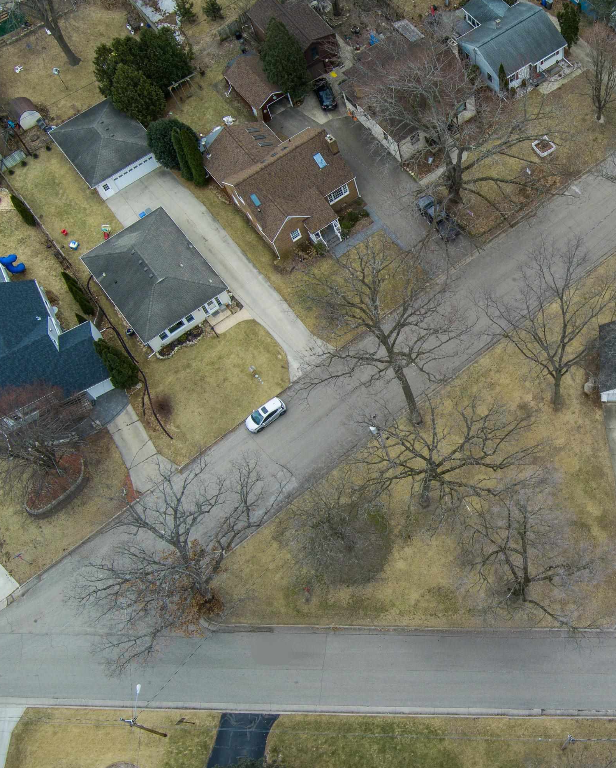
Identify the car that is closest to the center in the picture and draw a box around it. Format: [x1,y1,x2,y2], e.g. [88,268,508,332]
[243,395,290,434]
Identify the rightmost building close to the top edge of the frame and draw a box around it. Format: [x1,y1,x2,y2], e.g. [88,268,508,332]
[432,0,575,92]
